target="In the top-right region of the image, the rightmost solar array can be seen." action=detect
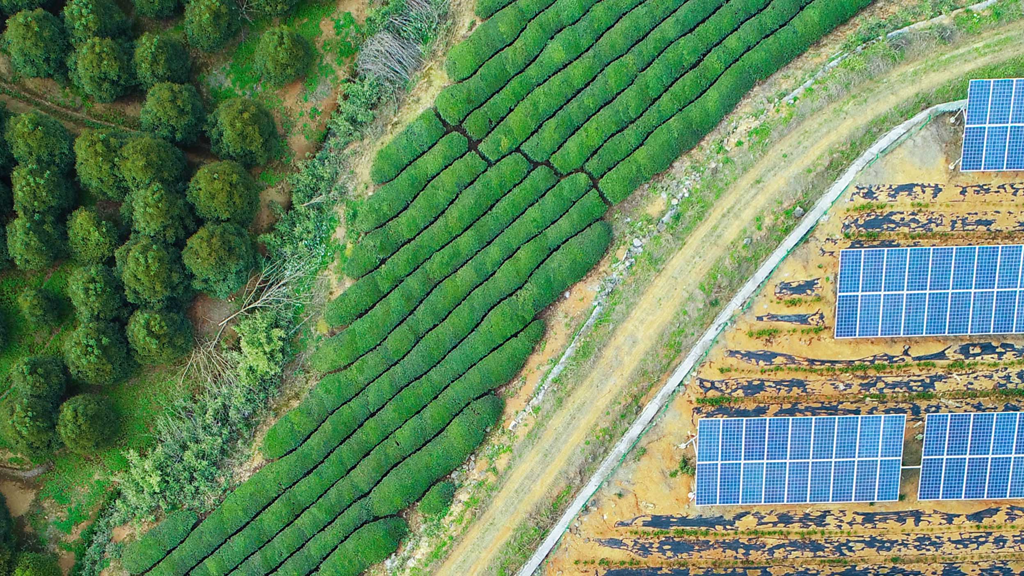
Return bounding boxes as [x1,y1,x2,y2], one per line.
[948,79,1024,171]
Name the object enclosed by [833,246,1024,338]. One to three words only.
solar array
